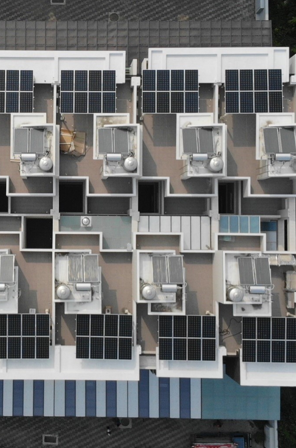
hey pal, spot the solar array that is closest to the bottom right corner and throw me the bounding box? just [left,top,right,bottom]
[235,310,296,362]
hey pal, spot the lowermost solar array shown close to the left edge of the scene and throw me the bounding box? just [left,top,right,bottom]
[0,307,50,358]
